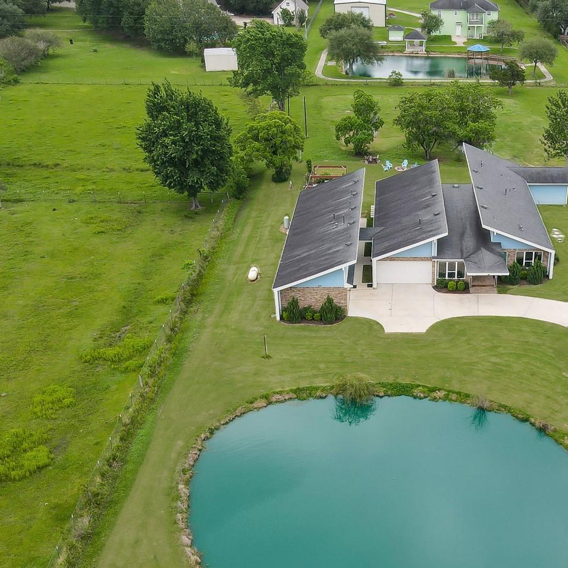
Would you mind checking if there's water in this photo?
Yes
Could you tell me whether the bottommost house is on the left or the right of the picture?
right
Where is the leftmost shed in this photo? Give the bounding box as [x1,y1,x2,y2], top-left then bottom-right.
[203,43,241,71]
